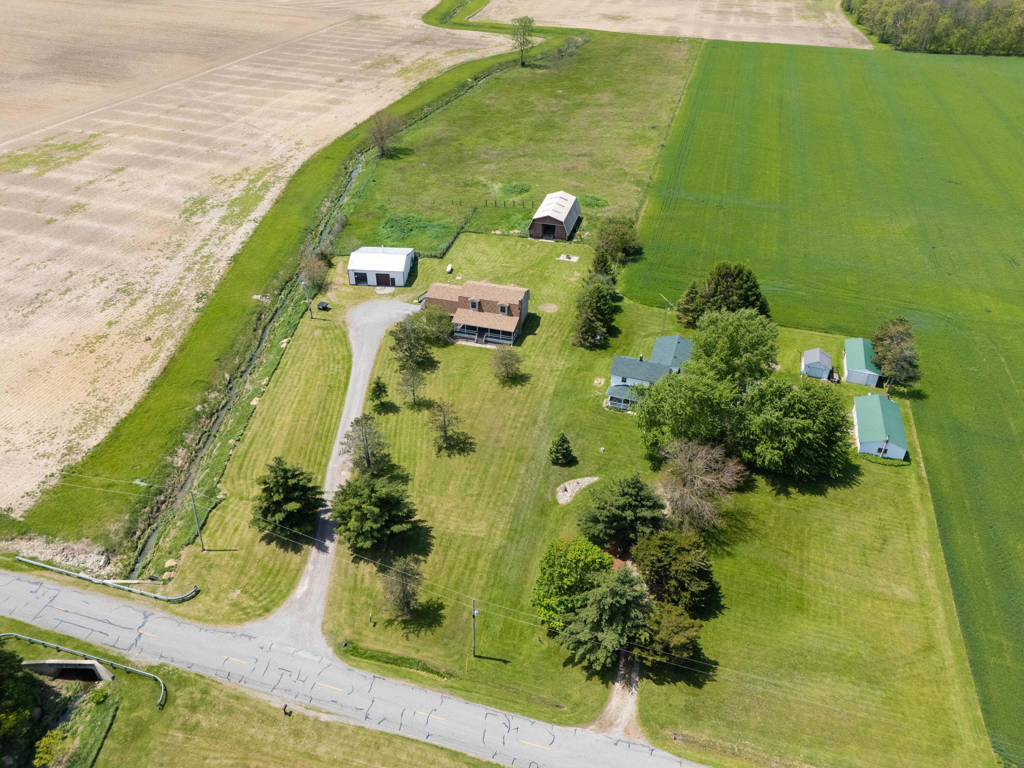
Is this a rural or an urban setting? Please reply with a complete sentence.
The area shown here is rural.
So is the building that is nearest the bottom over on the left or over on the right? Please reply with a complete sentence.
The building that is nearest the bottom sits on the right side.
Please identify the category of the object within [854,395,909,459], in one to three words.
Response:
building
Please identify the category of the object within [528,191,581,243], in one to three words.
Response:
barn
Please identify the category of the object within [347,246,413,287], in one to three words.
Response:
barn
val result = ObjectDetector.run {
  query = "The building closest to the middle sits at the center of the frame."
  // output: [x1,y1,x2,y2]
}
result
[418,276,529,344]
